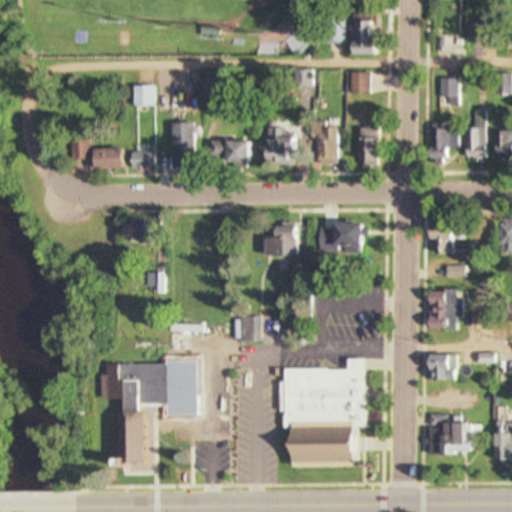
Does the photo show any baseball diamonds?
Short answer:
No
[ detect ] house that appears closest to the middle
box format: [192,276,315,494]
[264,222,297,256]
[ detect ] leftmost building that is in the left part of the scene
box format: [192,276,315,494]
[72,140,94,162]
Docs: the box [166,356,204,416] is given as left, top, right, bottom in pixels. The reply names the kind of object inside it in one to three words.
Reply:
building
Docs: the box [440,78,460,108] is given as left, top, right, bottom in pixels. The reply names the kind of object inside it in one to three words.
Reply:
house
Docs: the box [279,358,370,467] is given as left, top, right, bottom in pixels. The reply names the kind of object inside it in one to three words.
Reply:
building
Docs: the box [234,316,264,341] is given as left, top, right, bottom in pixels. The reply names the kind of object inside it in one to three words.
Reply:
shed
